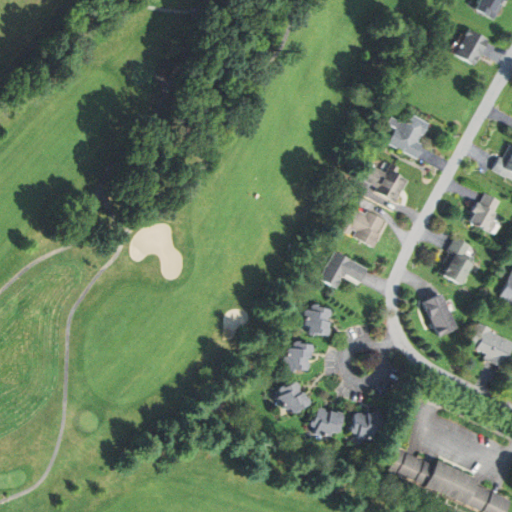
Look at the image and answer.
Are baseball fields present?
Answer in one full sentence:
No, I can't see a single baseball field in this photo.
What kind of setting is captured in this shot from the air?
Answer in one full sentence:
The picture captures a golf course.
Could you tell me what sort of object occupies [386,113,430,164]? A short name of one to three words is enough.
house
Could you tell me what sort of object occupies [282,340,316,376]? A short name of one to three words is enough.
house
